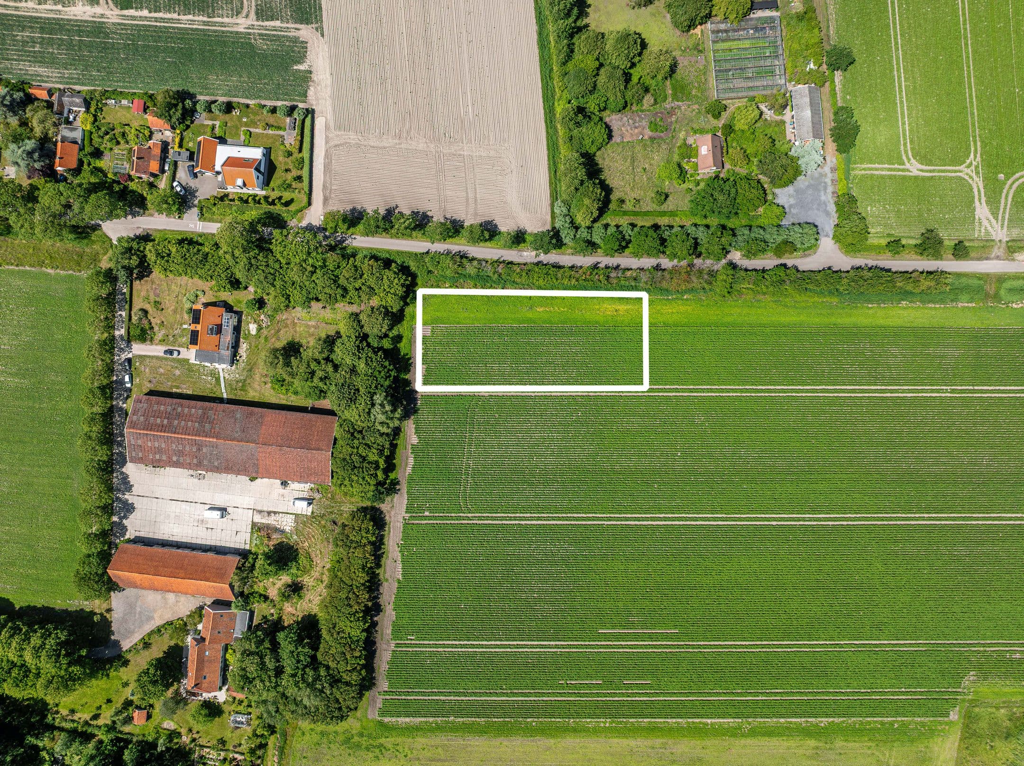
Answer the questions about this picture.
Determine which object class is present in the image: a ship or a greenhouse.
greenhouse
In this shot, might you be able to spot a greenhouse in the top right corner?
Yes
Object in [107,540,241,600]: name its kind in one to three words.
barn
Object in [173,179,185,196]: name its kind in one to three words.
vehicle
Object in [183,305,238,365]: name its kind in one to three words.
house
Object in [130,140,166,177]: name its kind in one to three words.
house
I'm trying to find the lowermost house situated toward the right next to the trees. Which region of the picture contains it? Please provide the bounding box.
[694,134,722,172]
